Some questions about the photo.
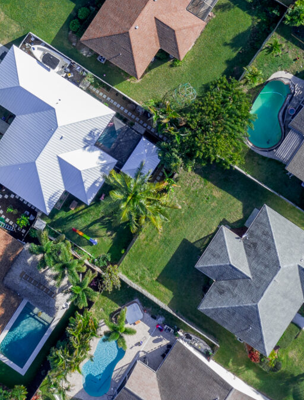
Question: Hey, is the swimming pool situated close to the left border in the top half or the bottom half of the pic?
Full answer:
Seen from above, the swimming pool situated close to the left border lies in the bottom half of the view.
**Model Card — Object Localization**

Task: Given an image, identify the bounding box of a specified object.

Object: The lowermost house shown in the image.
[113,335,256,400]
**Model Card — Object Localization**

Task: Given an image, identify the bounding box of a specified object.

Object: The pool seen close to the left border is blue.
[0,297,65,380]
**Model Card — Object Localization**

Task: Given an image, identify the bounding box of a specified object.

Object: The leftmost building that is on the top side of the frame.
[0,45,118,215]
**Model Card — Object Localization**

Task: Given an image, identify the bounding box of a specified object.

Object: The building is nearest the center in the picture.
[121,136,160,184]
